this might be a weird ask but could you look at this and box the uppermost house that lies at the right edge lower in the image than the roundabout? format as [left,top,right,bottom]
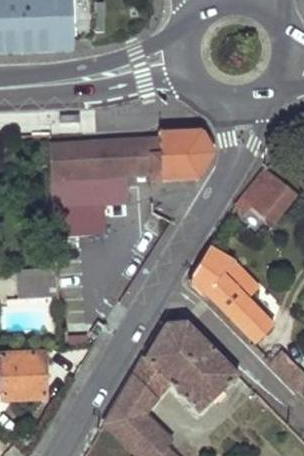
[236,167,300,226]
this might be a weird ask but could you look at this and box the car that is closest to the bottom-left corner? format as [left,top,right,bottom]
[49,376,64,396]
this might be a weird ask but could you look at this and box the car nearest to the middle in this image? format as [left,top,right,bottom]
[136,230,155,254]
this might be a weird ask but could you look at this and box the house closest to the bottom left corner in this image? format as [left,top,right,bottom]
[0,350,50,405]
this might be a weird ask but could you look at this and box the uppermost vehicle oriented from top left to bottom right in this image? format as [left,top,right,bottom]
[285,24,304,46]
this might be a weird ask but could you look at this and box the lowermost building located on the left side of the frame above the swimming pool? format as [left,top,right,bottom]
[17,268,56,298]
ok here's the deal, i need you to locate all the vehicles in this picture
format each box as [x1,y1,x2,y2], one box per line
[288,342,304,362]
[130,322,147,343]
[49,376,64,396]
[200,7,220,19]
[285,24,304,46]
[91,386,109,409]
[74,84,96,95]
[52,352,74,372]
[60,276,81,287]
[124,257,142,278]
[136,230,155,254]
[254,88,275,99]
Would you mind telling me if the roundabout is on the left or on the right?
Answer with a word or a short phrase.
right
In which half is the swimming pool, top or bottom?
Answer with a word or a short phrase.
bottom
